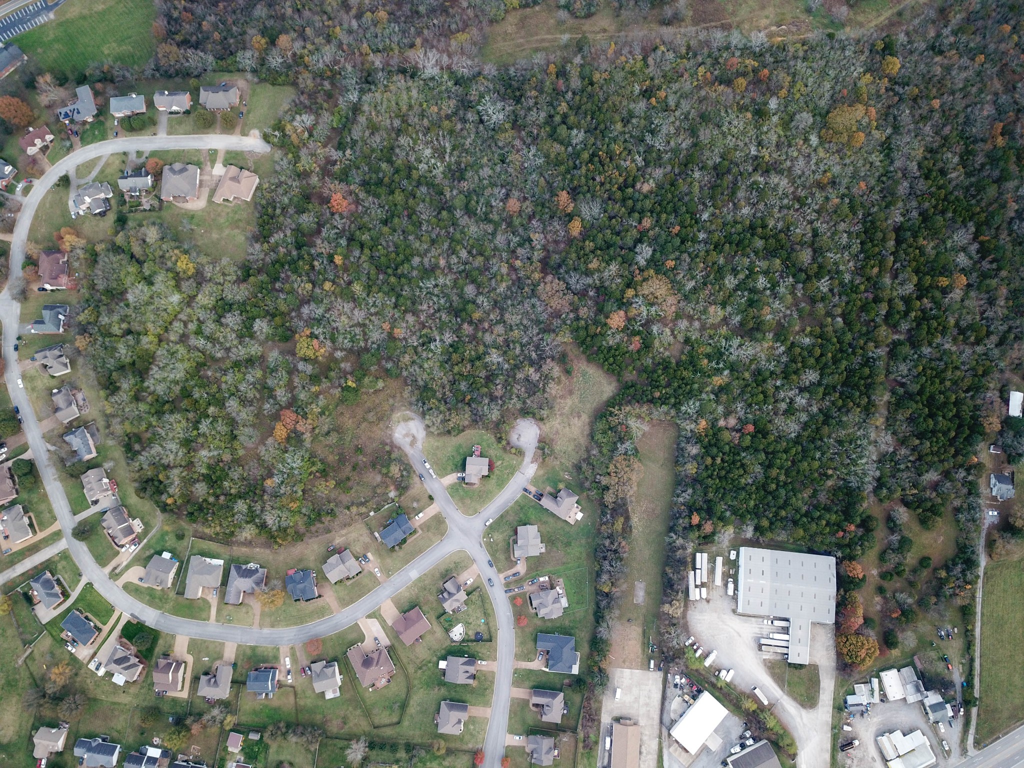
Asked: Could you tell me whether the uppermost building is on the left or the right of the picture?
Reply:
left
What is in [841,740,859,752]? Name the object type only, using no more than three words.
vehicle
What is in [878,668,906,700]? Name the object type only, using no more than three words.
building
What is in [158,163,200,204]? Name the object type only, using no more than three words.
house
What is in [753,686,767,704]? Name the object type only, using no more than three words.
vehicle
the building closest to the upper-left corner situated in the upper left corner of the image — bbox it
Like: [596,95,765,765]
[0,41,28,79]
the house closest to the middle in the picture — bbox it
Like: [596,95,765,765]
[465,445,488,483]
